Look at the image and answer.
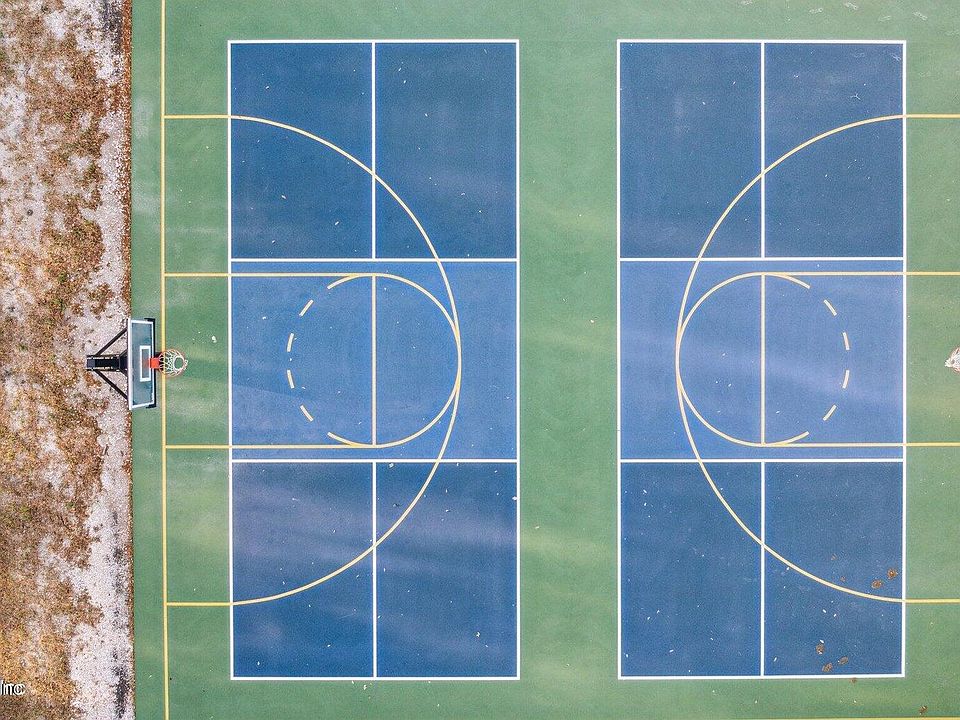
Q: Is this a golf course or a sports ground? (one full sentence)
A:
The picture captures a sports ground.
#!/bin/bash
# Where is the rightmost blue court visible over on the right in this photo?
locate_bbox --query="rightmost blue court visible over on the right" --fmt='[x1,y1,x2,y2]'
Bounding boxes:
[617,39,907,679]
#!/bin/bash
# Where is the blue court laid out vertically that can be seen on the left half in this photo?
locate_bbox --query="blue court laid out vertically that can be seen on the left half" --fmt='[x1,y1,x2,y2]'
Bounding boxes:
[228,39,520,681]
